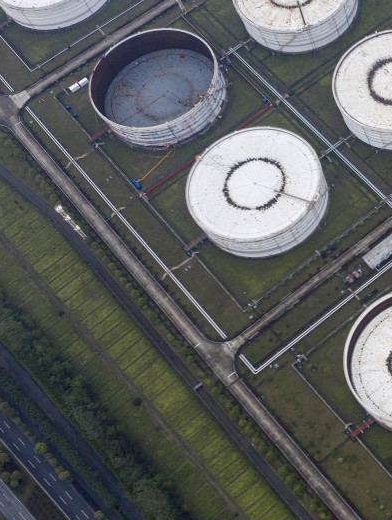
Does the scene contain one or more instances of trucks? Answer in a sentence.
Yes, the image includes a truck.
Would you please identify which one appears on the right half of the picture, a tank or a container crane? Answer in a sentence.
There is a tank on the right half of the picture.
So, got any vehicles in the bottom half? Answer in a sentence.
No, I can find no vehicle in the bottom half.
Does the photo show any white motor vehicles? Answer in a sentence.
No, I can see no white motor vehicle in this picture.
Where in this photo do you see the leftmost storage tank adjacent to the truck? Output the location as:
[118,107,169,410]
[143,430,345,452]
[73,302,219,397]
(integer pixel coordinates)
[88,27,229,149]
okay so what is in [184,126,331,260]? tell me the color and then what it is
white storage tank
